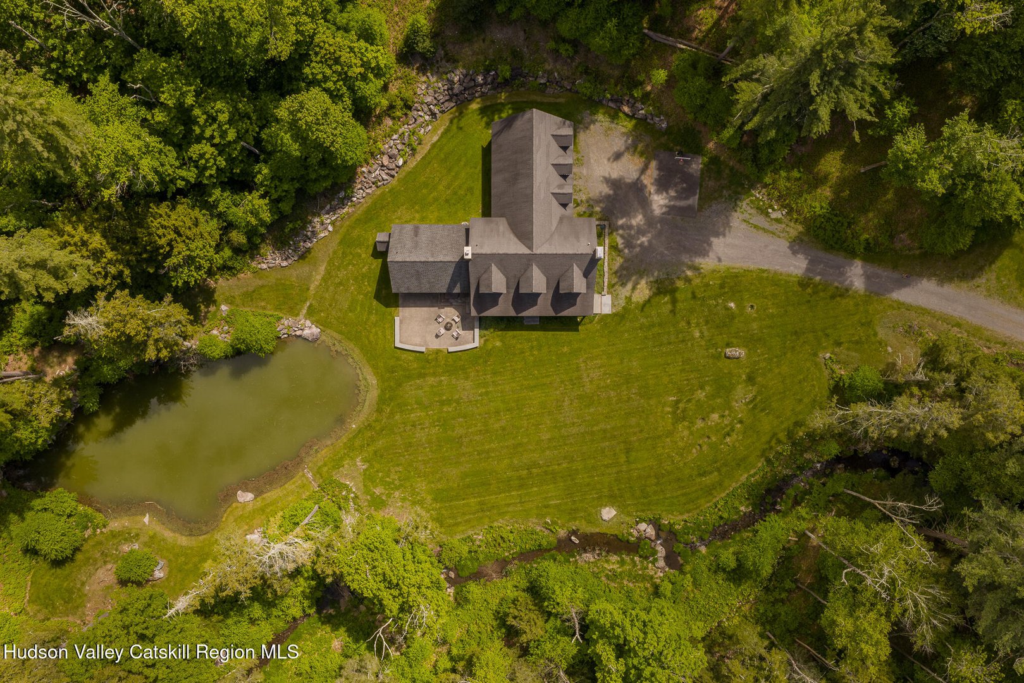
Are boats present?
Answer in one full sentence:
No, no boat is visible in the view.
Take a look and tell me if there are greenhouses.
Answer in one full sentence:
No, the photo shows no greenhouse.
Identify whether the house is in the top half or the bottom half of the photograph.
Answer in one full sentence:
Seen from above, the house lies in the top half of the view.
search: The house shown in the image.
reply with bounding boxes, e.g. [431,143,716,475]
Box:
[376,109,603,316]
